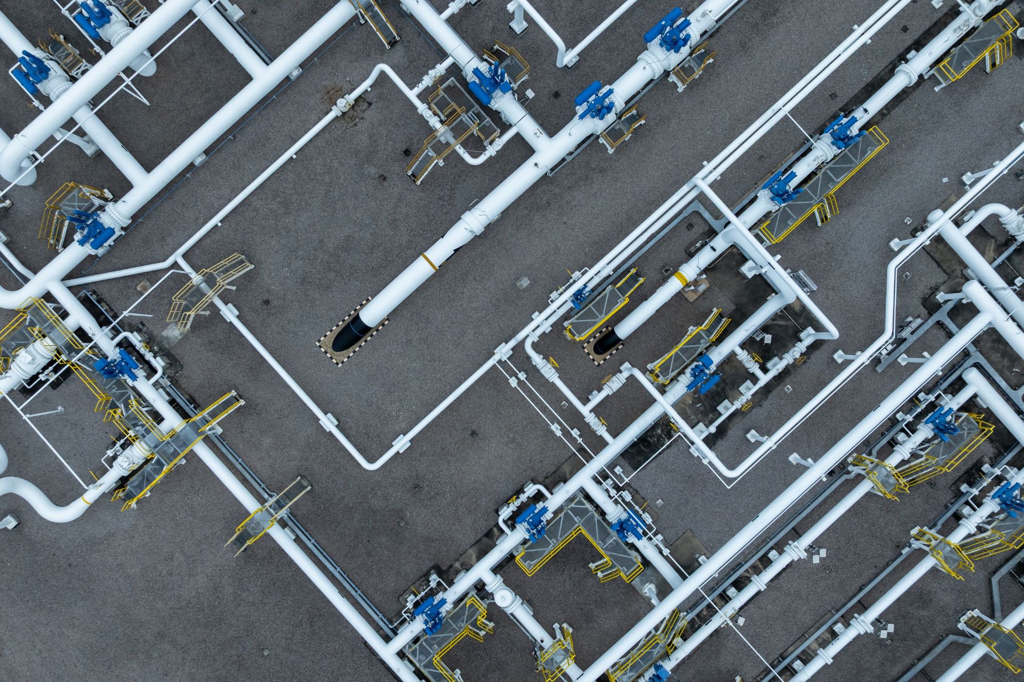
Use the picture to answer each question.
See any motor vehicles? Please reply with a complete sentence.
No, no motor vehicle is visible in the scene.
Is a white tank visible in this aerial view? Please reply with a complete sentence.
No, this view has no white tank in it.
